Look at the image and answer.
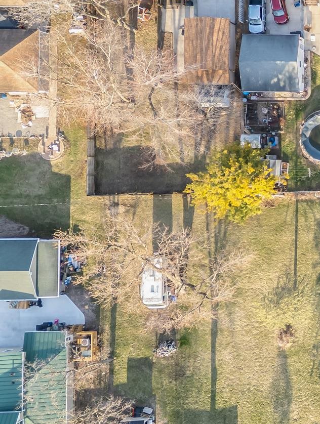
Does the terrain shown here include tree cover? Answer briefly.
Yes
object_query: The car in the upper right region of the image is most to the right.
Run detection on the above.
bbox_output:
[270,0,289,25]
